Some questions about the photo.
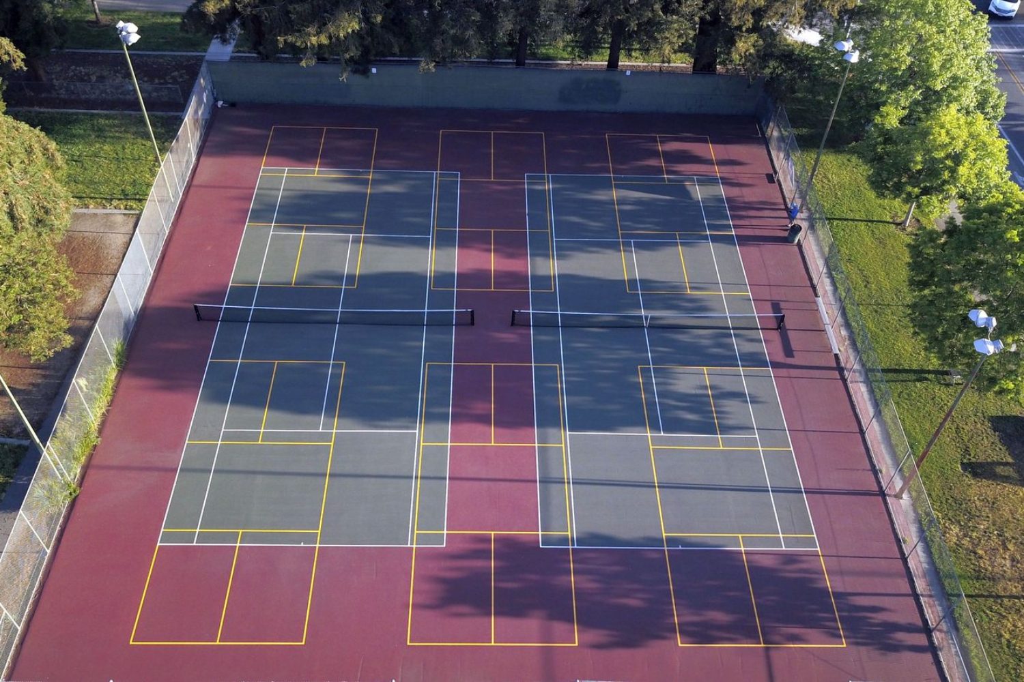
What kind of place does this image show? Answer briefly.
sports ground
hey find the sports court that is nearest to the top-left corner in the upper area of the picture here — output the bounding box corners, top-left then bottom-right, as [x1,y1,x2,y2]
[239,125,378,288]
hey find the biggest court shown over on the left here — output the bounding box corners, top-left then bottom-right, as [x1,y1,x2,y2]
[158,167,460,547]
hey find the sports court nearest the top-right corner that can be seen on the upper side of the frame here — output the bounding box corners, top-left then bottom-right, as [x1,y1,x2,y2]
[606,133,750,295]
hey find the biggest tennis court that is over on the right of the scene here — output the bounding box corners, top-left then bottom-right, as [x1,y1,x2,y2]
[525,173,819,550]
